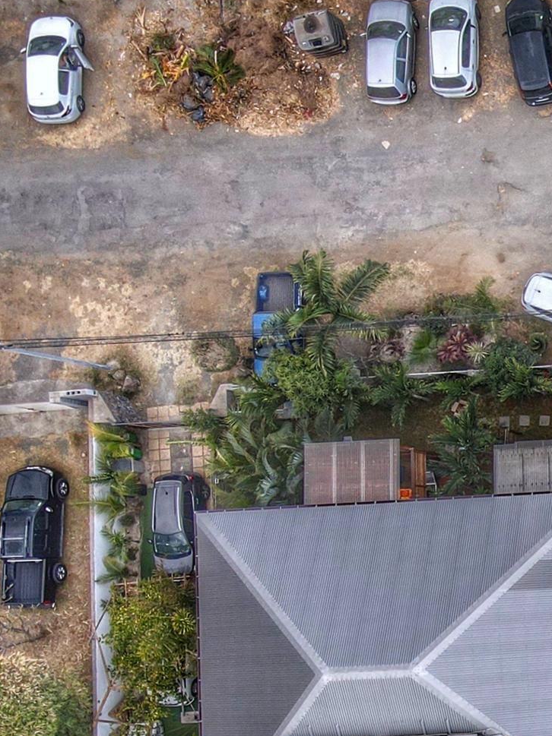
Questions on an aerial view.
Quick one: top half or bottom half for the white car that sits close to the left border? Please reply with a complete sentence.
Seen from above, the white car that sits close to the left border lies in the top half of the view.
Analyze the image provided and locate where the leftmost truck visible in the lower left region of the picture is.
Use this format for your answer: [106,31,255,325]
[0,468,71,604]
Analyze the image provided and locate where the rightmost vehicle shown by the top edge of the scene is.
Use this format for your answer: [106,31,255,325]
[501,0,552,107]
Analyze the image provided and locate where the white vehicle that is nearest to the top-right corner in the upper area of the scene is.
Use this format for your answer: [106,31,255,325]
[423,0,482,101]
